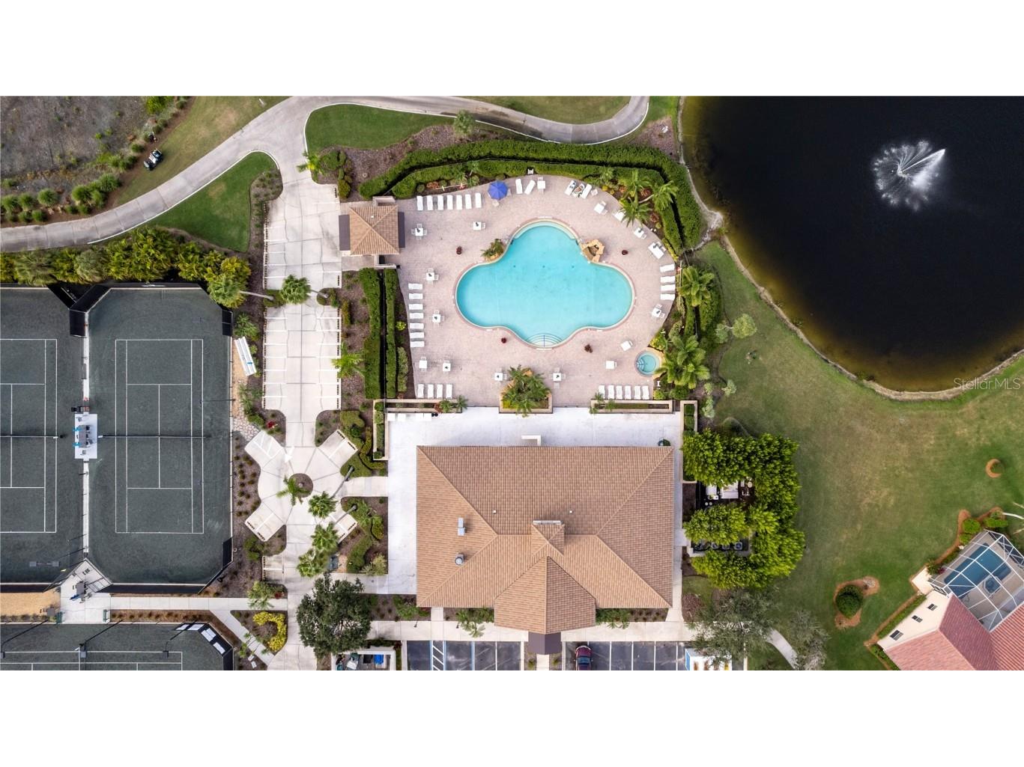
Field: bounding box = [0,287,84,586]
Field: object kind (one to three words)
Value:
tennis court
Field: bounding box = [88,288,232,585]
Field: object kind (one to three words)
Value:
tennis court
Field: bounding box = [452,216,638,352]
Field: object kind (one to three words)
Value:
swimming pool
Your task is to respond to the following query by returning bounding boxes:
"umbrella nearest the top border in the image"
[488,180,509,201]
